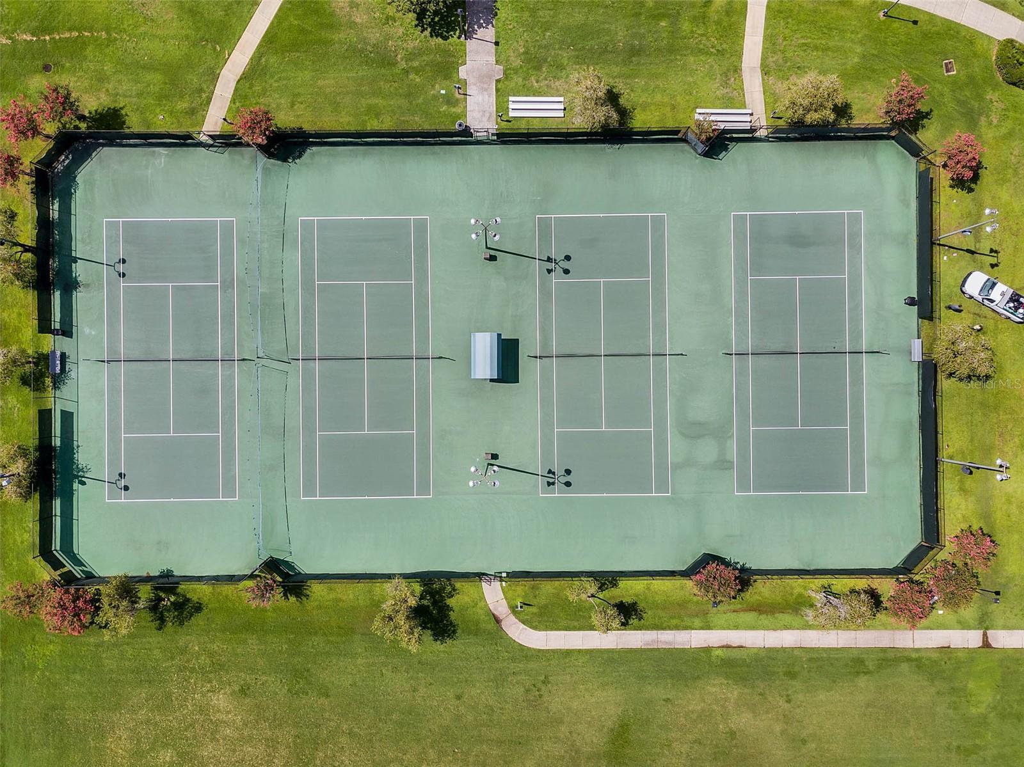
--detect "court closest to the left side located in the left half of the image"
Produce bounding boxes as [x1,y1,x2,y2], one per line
[104,218,238,502]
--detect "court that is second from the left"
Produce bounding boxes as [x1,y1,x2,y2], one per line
[299,216,432,499]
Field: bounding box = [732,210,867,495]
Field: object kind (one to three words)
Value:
tennis court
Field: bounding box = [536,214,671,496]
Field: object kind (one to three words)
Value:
tennis court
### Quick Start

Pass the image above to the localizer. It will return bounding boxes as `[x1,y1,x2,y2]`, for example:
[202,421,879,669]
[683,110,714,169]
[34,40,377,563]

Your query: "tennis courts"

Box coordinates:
[104,218,238,502]
[536,214,671,496]
[732,210,867,495]
[299,216,432,499]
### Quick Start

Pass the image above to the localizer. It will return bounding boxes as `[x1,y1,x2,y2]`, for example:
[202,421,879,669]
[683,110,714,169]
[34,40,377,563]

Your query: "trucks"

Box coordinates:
[958,268,1024,319]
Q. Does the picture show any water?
No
